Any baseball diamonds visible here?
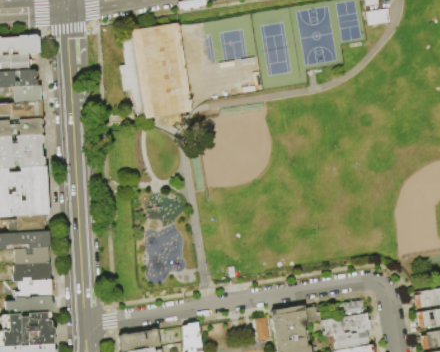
Yes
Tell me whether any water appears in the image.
No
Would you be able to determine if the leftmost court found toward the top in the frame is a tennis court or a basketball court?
tennis court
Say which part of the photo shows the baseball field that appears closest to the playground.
center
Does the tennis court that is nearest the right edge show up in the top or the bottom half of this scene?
top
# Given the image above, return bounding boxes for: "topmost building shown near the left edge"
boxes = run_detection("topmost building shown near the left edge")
[0,33,40,54]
